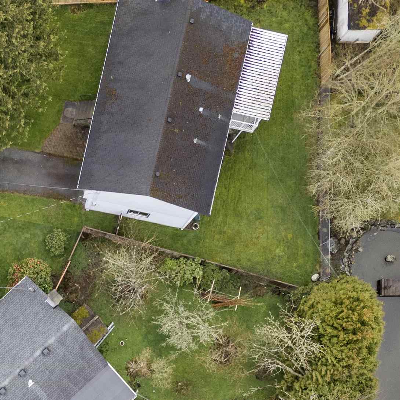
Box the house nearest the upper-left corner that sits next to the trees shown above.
[76,0,256,231]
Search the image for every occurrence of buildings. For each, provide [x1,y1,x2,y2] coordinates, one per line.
[0,275,137,400]
[333,0,390,48]
[76,0,256,231]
